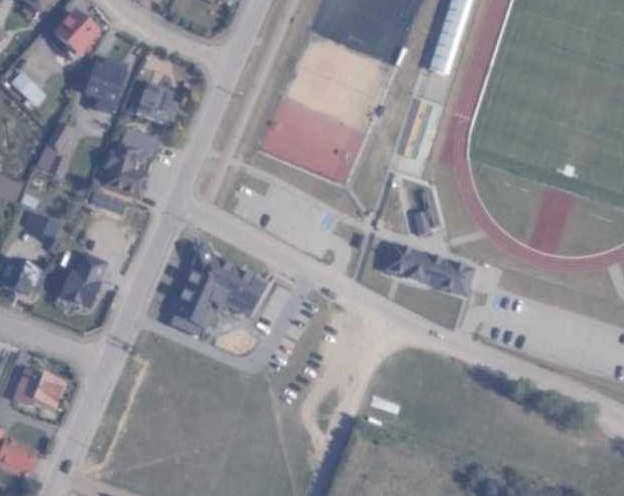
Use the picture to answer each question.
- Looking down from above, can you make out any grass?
Yes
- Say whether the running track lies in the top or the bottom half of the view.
top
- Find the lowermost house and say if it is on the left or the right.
left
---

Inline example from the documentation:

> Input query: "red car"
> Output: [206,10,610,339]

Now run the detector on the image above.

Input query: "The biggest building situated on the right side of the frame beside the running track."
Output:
[375,243,477,300]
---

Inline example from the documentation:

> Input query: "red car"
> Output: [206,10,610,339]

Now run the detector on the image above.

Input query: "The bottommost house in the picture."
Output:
[1,441,40,474]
